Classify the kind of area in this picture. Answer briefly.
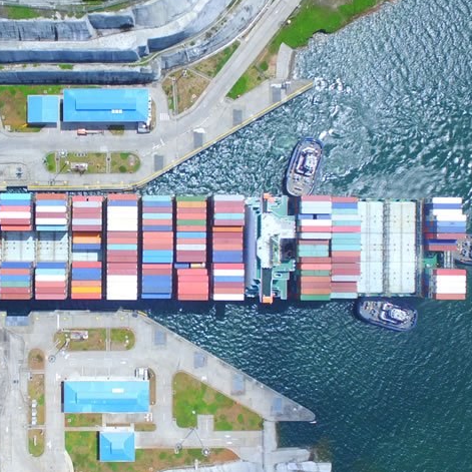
port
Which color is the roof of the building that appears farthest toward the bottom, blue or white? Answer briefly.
blue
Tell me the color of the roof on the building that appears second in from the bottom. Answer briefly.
blue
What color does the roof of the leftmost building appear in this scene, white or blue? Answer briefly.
blue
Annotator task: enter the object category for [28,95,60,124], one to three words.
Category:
building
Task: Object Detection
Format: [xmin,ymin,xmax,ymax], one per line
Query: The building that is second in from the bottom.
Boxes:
[64,375,150,412]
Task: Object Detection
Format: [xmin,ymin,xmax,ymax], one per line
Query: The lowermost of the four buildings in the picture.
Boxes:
[99,427,135,461]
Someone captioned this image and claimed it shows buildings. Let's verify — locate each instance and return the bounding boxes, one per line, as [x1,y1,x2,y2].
[28,95,60,124]
[99,427,135,461]
[64,375,150,412]
[64,89,151,126]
